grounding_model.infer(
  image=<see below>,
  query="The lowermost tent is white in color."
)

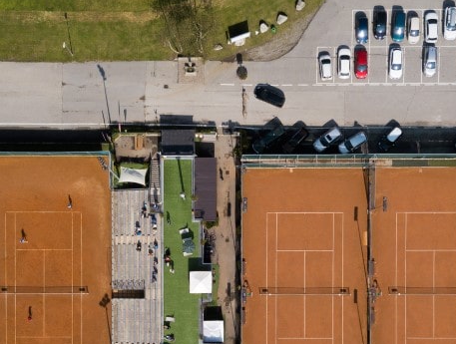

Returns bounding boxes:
[202,320,224,344]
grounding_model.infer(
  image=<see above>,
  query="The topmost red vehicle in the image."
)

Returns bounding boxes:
[354,49,369,78]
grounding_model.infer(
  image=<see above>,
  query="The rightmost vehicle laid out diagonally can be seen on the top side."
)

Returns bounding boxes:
[377,124,403,151]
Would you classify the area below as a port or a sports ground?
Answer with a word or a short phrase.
sports ground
